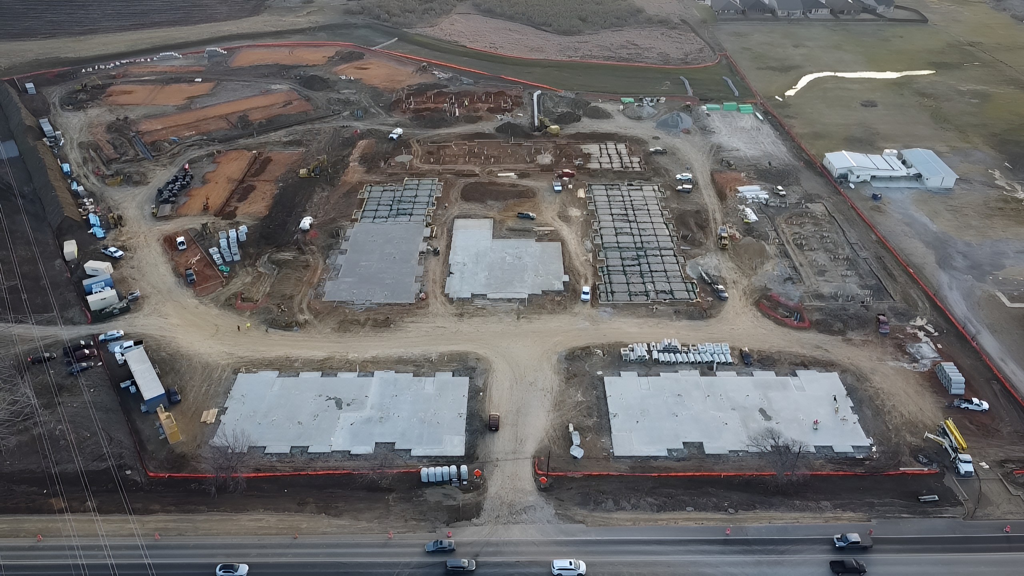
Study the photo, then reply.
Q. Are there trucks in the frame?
Yes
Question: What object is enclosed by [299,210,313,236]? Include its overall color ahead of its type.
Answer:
white vehicle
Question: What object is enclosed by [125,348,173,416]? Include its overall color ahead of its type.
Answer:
white trailer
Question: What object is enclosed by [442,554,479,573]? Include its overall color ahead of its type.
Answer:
gray vehicle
